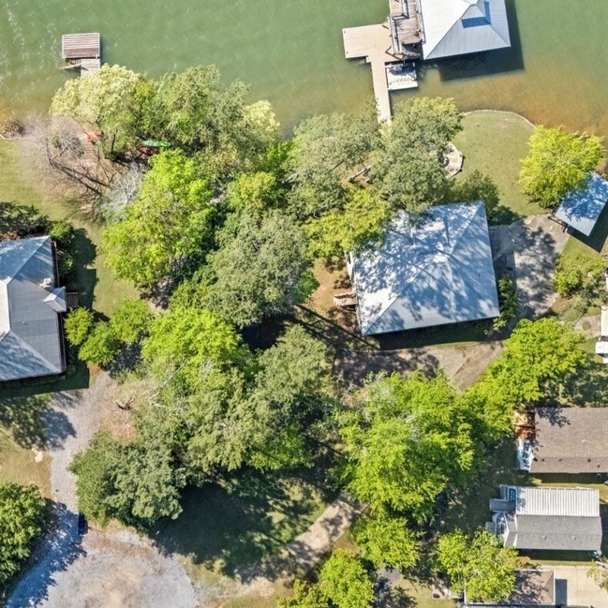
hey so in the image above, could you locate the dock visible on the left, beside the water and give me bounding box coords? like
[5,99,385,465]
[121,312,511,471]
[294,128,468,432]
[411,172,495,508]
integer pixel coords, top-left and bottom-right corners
[61,32,101,114]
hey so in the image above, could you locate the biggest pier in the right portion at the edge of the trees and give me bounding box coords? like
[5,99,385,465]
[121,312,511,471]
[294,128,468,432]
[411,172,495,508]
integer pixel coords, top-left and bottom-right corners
[340,23,405,128]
